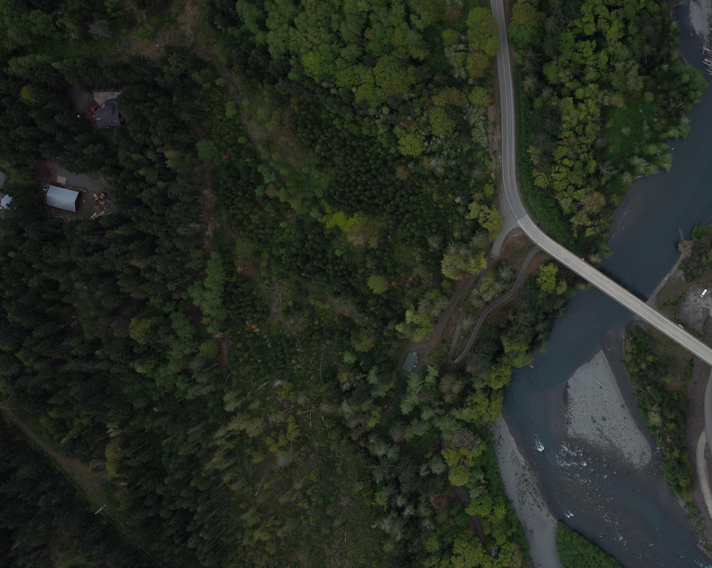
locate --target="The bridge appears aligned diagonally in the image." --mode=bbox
[518,213,712,367]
